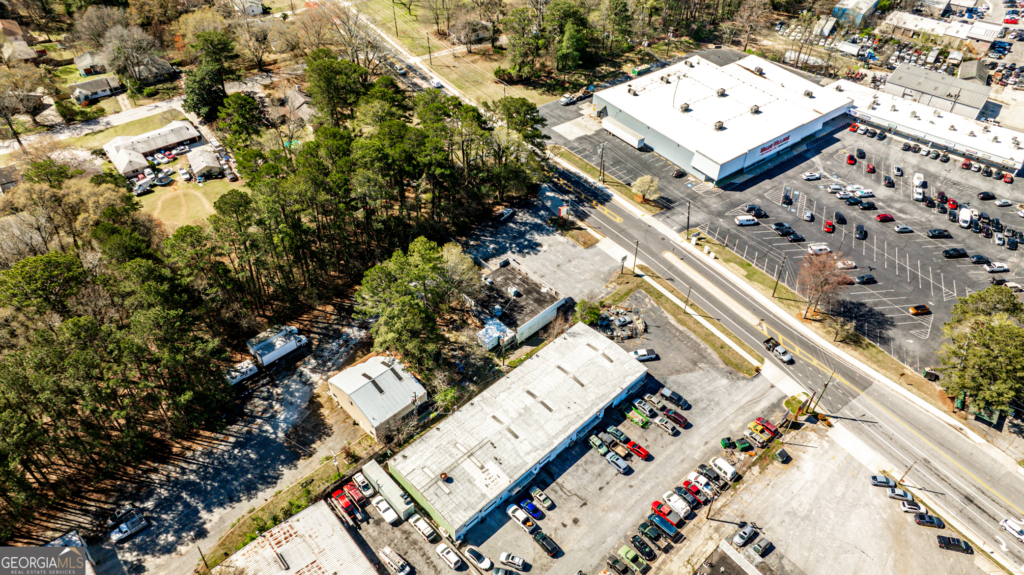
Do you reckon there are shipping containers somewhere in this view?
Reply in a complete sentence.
Yes, there's a shipping container here.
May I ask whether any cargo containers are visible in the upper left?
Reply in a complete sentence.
No, in the upper left there is no cargo container.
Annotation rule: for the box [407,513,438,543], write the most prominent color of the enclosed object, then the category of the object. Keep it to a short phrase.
white car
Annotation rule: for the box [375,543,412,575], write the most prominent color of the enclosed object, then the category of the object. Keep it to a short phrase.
white van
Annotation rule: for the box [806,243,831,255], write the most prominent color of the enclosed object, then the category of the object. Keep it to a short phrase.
white vehicle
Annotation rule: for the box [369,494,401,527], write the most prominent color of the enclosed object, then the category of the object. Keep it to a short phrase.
white truck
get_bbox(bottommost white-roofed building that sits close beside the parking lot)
[388,322,651,543]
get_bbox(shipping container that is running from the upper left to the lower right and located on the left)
[361,456,416,522]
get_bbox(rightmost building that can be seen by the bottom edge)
[694,536,777,575]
